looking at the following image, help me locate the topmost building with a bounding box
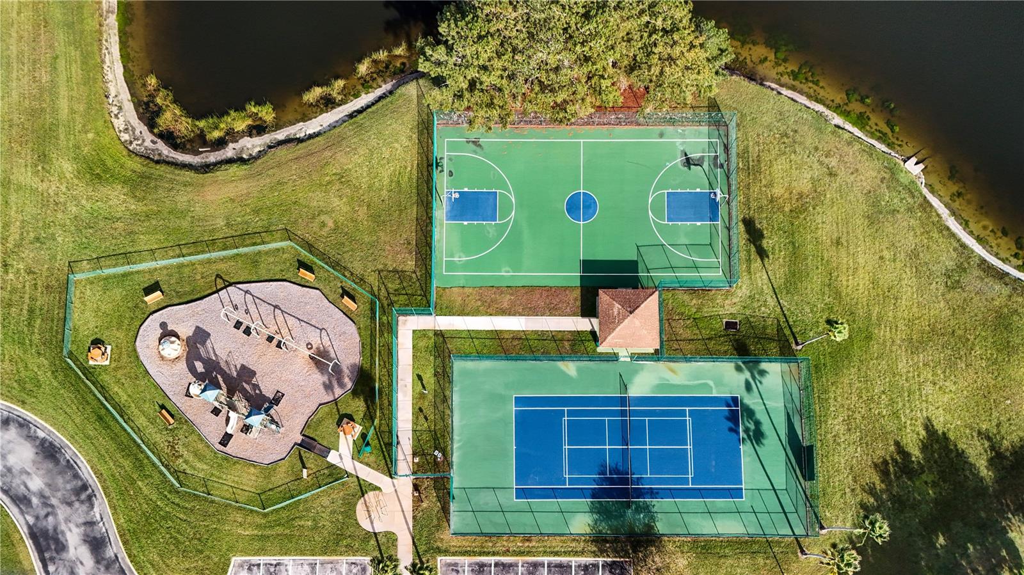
[596,289,660,362]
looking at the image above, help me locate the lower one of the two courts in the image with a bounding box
[453,361,808,535]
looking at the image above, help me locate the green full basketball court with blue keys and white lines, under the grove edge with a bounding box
[433,126,731,287]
